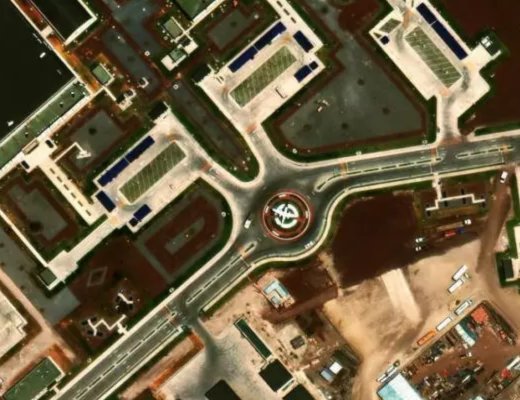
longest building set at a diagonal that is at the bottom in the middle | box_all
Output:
[234,319,271,358]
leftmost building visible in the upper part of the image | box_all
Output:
[0,79,88,168]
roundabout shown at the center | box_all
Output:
[261,190,312,242]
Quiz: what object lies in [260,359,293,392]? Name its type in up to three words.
building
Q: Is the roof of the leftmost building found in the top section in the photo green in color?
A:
Yes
